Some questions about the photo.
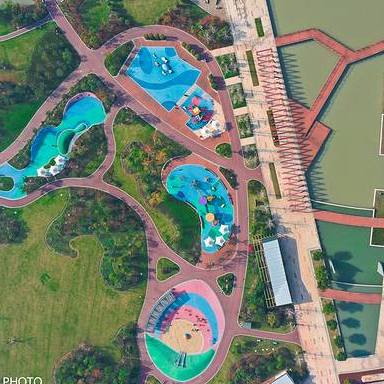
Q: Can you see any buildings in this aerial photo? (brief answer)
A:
Yes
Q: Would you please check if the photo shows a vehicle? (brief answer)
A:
No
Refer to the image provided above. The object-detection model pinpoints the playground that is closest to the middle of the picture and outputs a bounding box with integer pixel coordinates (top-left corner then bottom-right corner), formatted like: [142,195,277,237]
[166,164,235,254]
